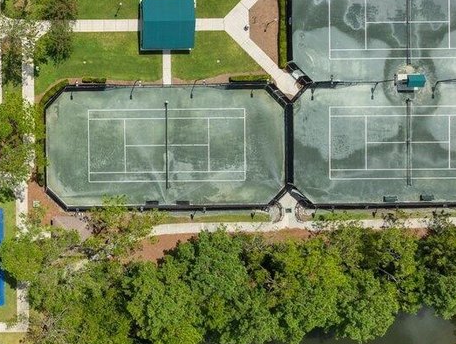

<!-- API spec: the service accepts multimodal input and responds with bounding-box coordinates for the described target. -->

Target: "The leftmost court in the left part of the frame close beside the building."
[44,83,286,206]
